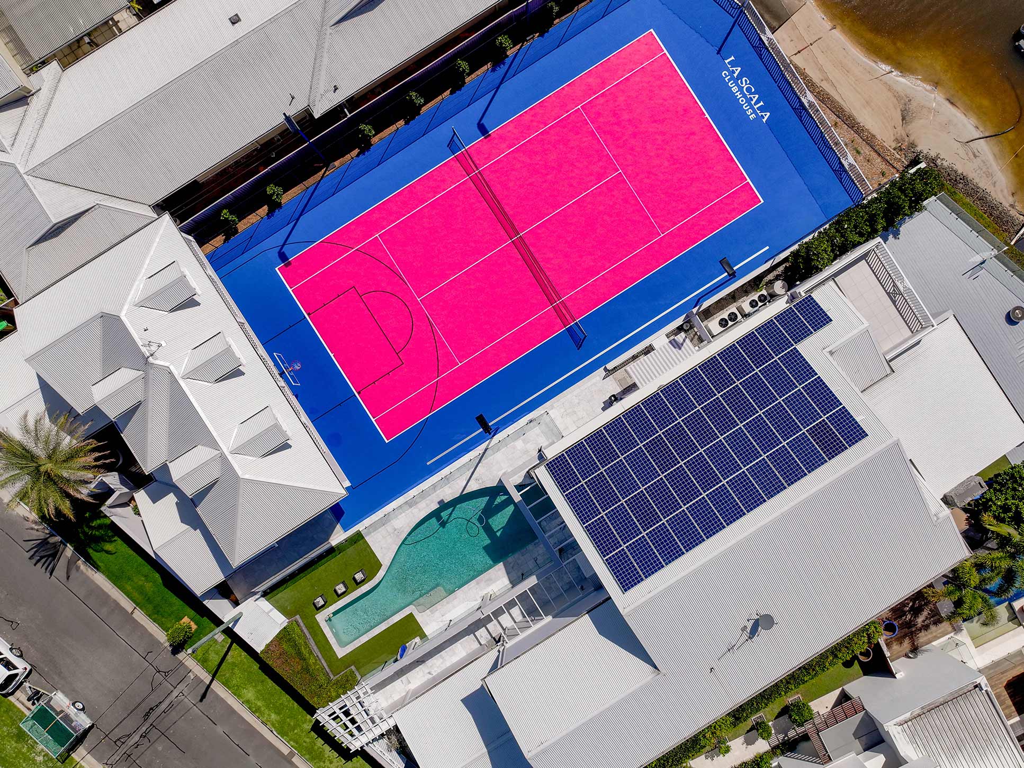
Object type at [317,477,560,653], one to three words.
swimming pool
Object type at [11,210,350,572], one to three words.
house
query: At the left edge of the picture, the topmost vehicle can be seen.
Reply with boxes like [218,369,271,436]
[0,642,28,696]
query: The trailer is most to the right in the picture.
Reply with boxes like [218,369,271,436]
[19,679,95,758]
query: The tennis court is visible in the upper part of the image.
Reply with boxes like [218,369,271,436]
[207,0,863,531]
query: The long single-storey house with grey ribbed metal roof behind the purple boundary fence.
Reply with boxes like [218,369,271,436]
[0,0,524,303]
